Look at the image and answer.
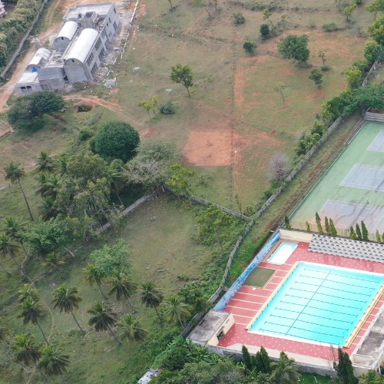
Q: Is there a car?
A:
No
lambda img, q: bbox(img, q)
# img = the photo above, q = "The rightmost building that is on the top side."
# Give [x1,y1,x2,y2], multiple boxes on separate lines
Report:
[16,2,121,96]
